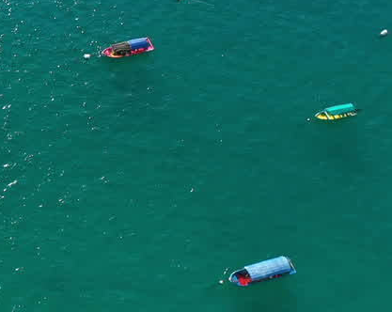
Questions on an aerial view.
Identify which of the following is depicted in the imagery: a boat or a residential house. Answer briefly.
boat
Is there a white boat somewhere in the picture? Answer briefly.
No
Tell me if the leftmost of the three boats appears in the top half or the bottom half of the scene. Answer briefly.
top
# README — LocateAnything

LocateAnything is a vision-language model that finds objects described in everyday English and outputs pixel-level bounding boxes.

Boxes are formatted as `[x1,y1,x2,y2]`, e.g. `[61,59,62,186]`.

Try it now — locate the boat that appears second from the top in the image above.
[315,104,361,121]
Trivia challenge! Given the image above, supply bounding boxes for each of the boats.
[229,258,298,285]
[315,104,361,121]
[102,35,155,56]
